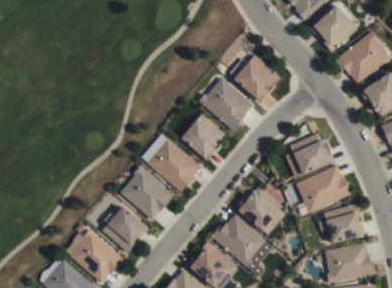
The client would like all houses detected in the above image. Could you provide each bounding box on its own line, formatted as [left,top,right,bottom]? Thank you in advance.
[296,164,350,212]
[234,54,281,102]
[338,32,392,83]
[66,230,122,284]
[188,244,238,288]
[104,208,148,254]
[200,78,255,130]
[288,0,327,20]
[311,0,360,49]
[181,114,226,159]
[142,134,202,192]
[362,72,392,114]
[40,260,96,288]
[240,182,286,235]
[382,122,392,152]
[324,204,366,243]
[214,214,272,274]
[290,134,334,174]
[324,243,375,282]
[167,268,205,288]
[120,168,172,220]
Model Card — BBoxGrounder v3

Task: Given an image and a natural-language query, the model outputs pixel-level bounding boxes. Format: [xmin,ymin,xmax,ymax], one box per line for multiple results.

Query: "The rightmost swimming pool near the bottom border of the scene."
[304,259,323,280]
